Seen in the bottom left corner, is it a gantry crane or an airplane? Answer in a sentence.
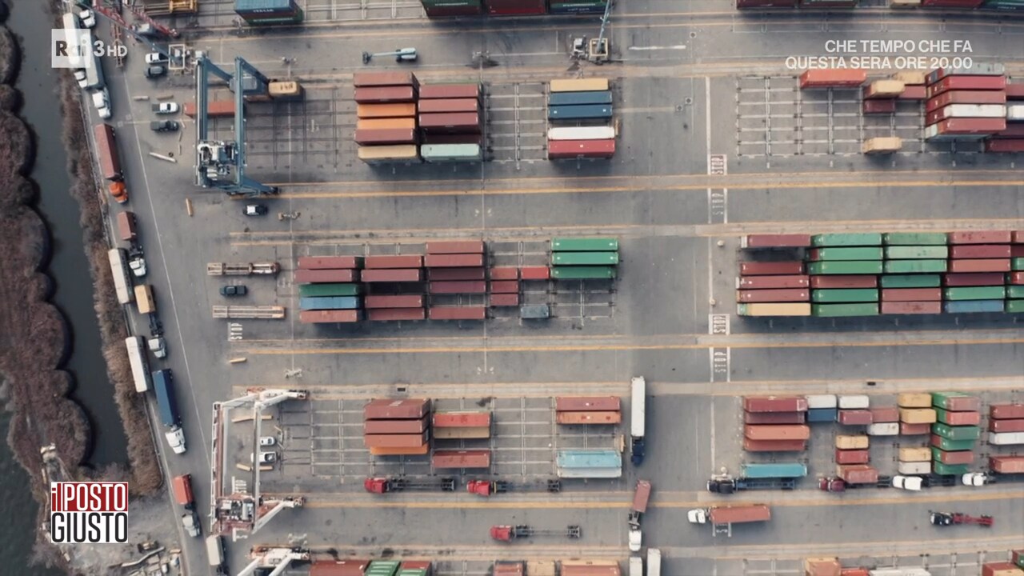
It is a gantry crane that can be seen in the bottom left corner.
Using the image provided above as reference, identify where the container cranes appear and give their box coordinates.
[212,389,301,542]
[77,0,186,39]
[223,549,303,576]
[192,47,282,194]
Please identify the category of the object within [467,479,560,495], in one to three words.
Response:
vehicle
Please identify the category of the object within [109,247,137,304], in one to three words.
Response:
trailer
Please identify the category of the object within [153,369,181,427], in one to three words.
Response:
shipping container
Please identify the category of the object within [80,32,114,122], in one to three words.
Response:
truck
